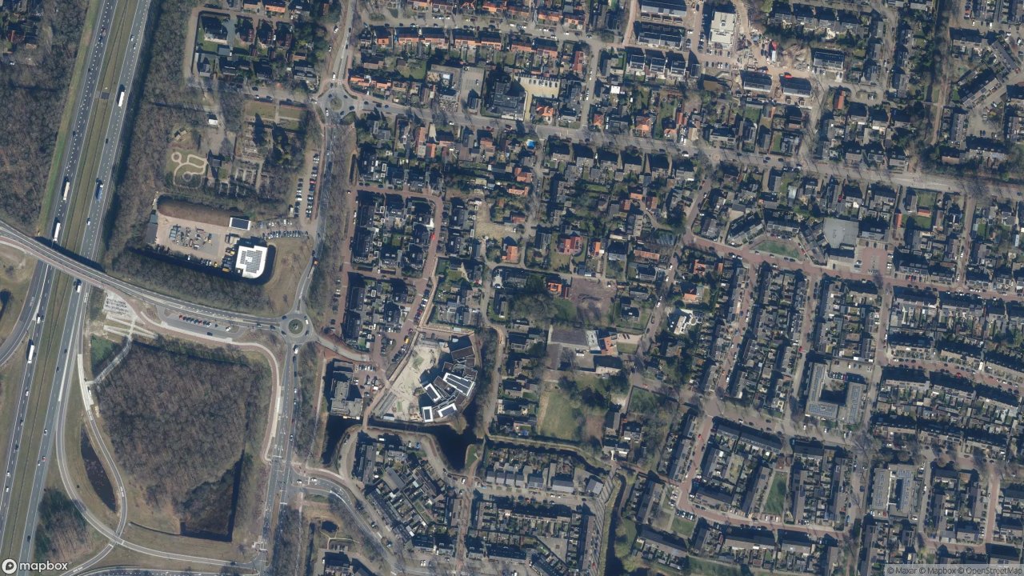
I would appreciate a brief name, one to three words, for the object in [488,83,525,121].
house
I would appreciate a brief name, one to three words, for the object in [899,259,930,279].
house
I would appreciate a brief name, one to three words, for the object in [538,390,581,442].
sports field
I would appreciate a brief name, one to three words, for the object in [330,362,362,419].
building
